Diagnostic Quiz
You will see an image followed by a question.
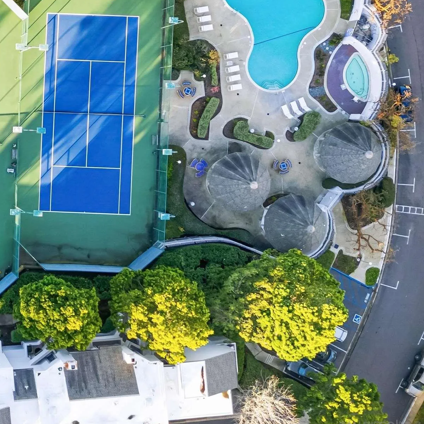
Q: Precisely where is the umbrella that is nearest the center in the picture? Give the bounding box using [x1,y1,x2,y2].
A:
[205,151,270,214]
